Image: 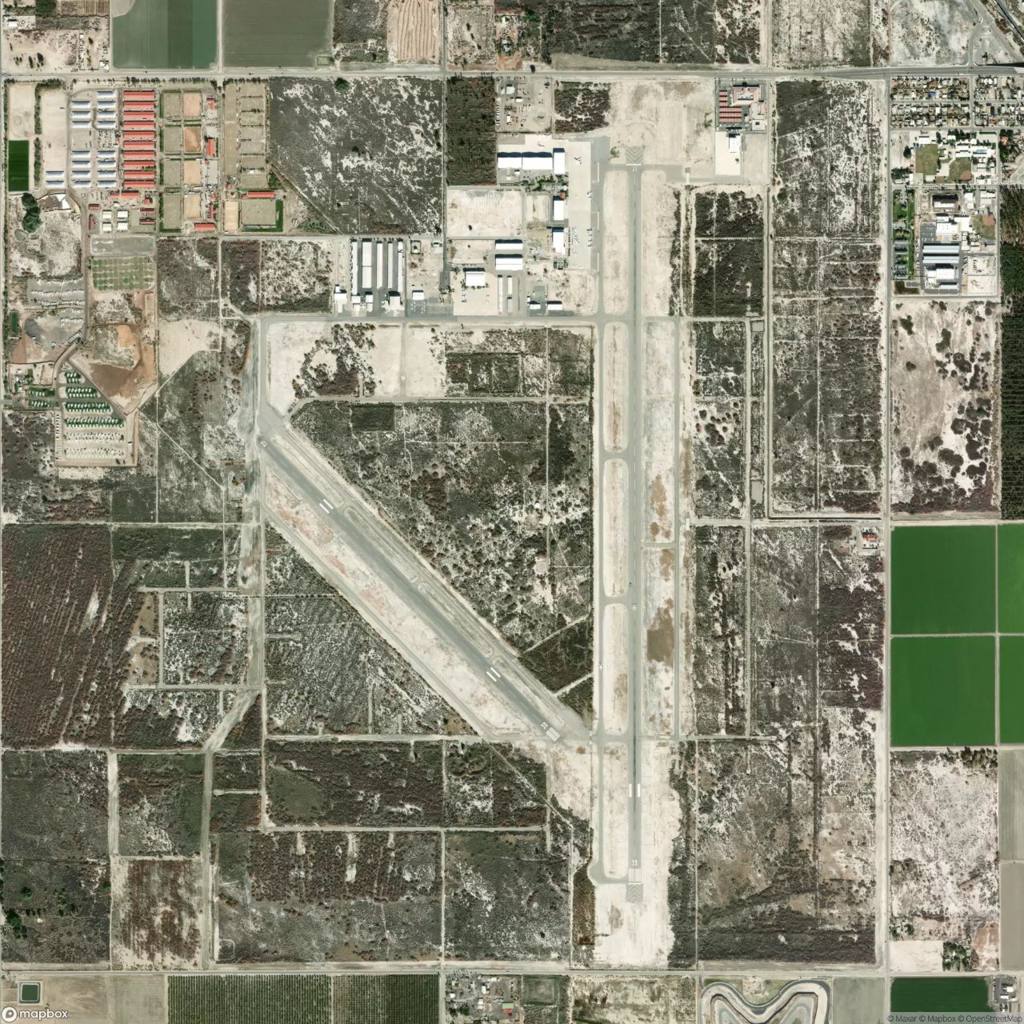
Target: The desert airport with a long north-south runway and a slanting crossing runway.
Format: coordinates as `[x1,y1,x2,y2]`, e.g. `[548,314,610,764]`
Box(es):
[255,132,766,902]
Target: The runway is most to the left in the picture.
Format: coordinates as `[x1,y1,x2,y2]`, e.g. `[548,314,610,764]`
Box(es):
[255,435,563,748]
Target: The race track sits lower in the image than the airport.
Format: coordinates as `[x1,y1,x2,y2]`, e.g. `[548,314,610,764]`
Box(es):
[700,979,830,1024]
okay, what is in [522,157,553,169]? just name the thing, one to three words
hangar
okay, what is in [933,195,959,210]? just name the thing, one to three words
building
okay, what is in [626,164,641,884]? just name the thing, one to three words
runway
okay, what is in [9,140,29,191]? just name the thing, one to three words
sports field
